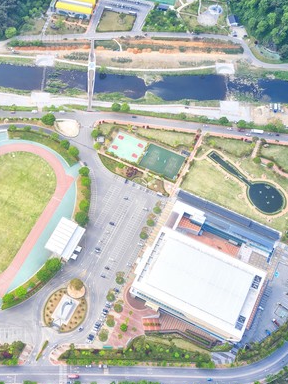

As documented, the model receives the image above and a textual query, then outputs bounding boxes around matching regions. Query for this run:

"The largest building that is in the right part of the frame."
[131,201,266,338]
